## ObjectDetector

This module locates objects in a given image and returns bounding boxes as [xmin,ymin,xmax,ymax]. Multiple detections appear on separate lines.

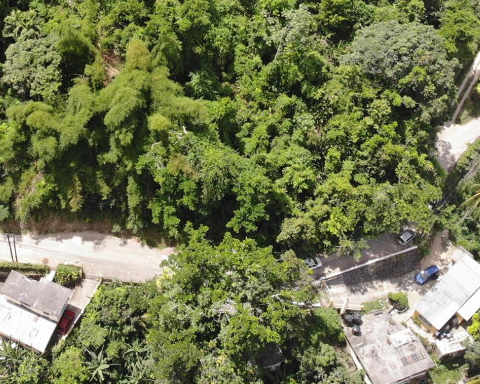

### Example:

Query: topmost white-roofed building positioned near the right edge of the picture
[412,253,480,336]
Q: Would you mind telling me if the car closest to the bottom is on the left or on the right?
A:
left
